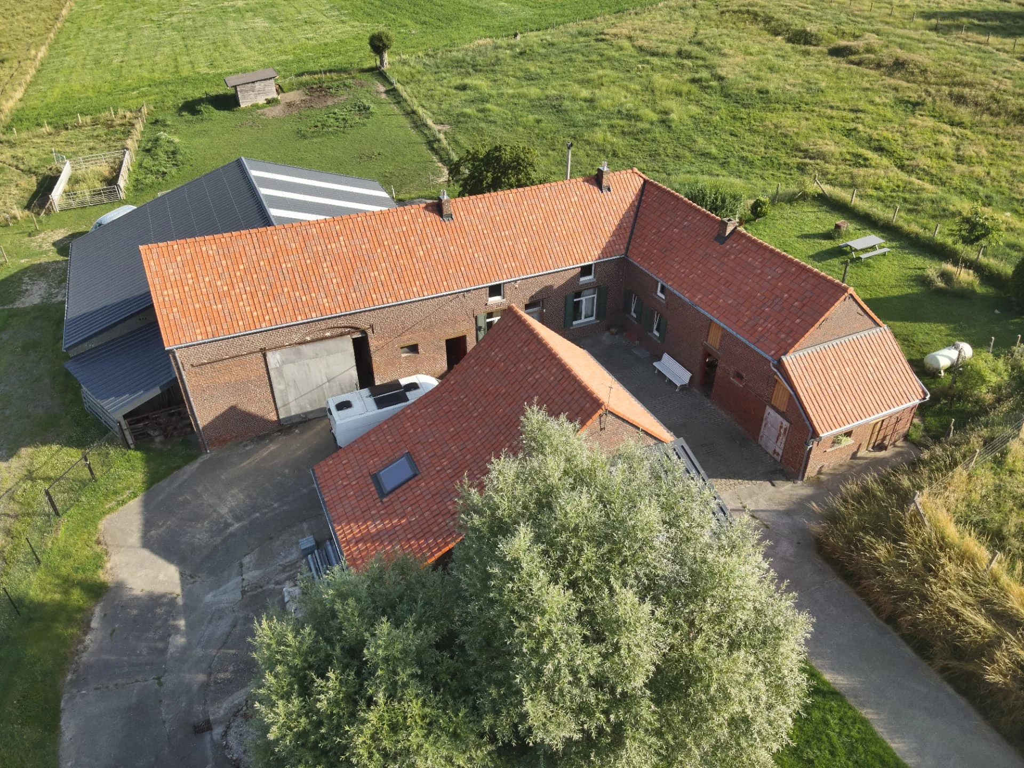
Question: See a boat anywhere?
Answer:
No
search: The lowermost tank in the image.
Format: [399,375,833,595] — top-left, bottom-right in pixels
[920,337,974,379]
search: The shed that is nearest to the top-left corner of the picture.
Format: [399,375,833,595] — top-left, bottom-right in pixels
[215,69,282,105]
